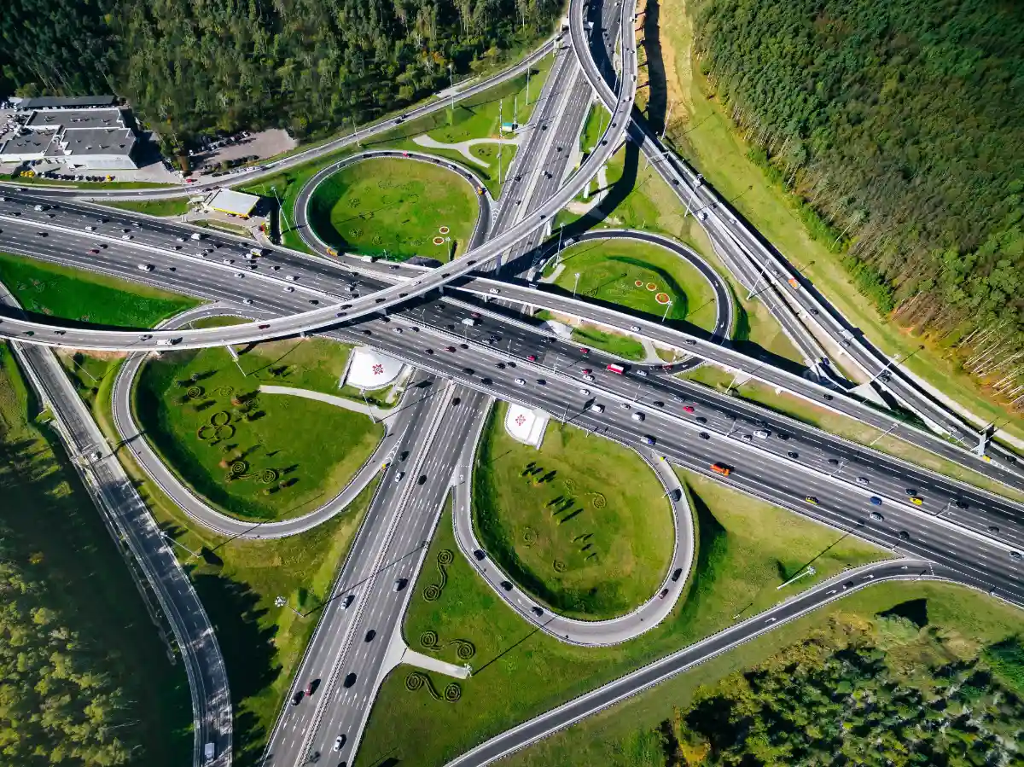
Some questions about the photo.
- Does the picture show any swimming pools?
No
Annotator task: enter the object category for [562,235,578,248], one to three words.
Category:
vehicle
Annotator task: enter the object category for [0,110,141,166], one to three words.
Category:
building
